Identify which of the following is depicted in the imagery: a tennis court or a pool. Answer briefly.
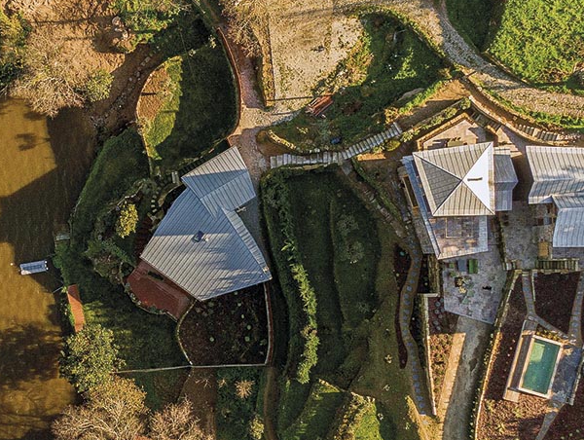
pool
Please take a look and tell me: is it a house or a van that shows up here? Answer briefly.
house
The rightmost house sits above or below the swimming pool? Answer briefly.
above it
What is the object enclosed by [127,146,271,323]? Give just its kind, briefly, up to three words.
house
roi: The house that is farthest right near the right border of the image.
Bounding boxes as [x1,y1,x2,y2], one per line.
[516,146,584,247]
